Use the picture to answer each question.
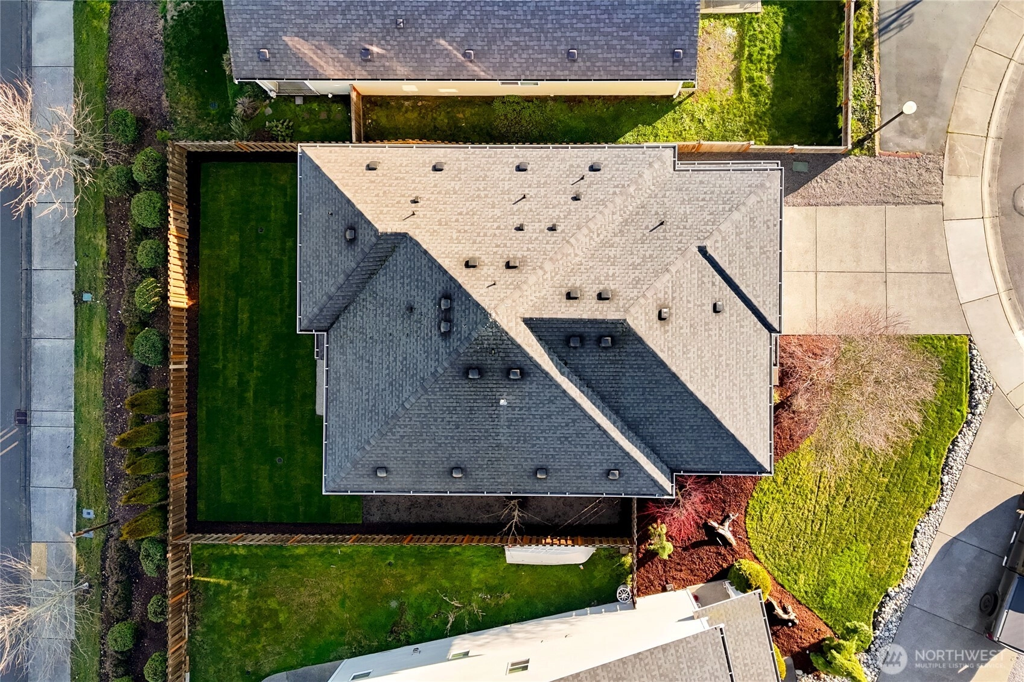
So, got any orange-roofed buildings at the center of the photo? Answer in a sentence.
No, at the center of the photo there is no orange-roofed building.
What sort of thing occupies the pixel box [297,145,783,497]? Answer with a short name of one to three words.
house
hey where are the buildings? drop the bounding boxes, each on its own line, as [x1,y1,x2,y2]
[219,0,703,103]
[297,145,783,497]
[262,580,794,682]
